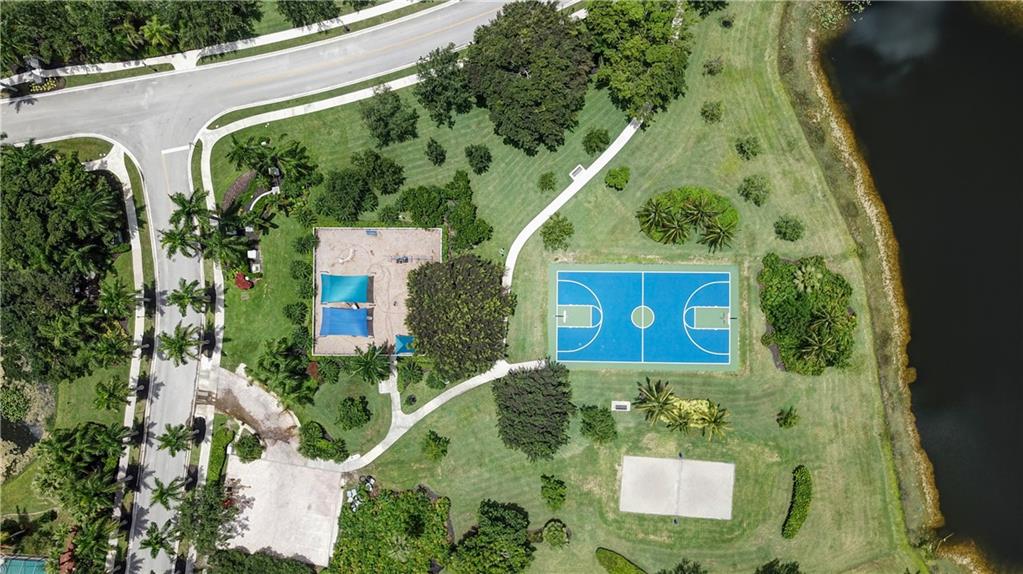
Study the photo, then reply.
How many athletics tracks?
0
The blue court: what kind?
basketball court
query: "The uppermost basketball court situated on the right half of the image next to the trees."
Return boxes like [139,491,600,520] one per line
[549,265,739,369]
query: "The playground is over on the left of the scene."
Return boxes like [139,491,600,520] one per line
[312,228,443,356]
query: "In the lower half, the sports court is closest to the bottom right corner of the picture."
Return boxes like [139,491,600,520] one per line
[619,454,735,526]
